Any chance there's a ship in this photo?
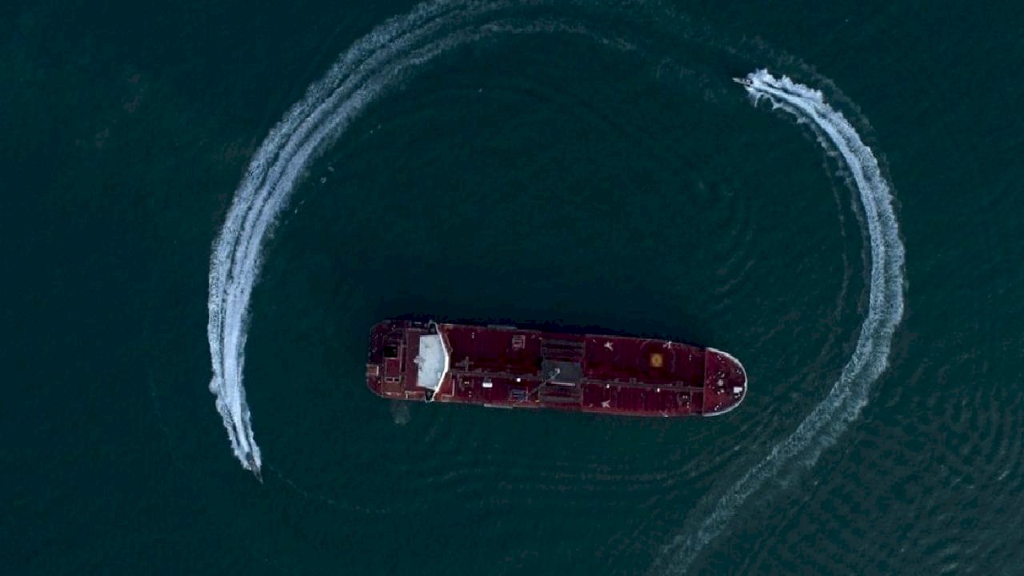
Yes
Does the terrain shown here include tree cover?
No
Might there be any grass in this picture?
No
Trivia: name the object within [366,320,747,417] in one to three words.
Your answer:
ship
